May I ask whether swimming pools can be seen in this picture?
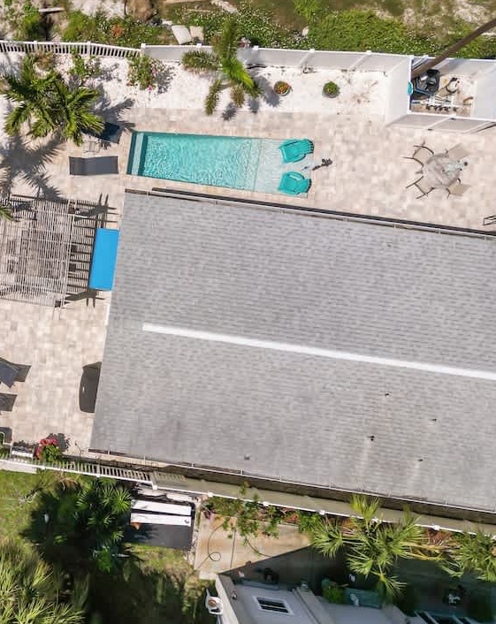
Yes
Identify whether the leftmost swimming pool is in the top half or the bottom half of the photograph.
top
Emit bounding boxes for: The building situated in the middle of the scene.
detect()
[89,187,496,515]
